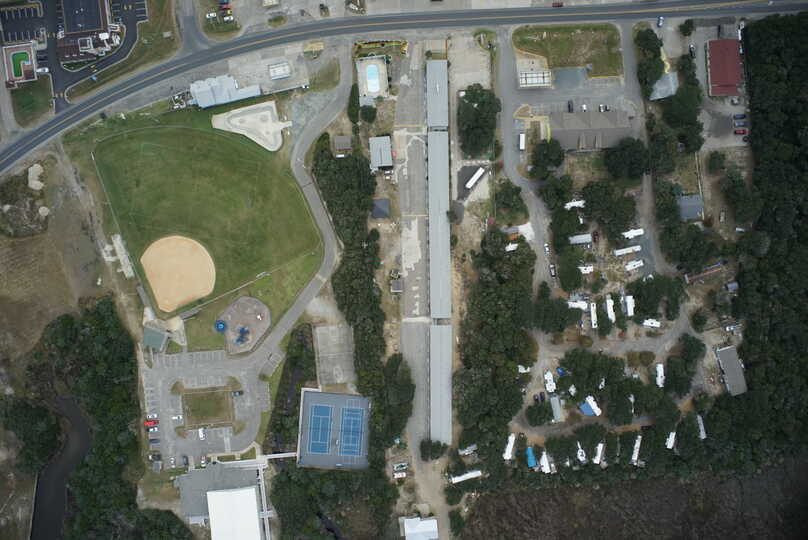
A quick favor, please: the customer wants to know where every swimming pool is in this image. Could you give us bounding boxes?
[357,57,389,96]
[4,43,36,81]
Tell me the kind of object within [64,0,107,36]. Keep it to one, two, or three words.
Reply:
building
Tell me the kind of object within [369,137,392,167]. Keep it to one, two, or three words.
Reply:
house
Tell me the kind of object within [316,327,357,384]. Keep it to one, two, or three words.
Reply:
basketball court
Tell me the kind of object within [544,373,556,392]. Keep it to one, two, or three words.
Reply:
vehicle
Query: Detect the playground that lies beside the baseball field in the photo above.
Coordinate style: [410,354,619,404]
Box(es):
[219,296,271,354]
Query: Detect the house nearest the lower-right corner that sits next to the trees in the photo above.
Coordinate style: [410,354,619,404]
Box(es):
[716,344,748,396]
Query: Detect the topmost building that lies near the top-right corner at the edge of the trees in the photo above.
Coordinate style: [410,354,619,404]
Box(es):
[708,39,741,86]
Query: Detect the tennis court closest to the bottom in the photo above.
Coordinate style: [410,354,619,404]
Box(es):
[298,391,370,470]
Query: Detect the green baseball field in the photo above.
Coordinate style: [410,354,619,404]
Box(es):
[94,127,320,319]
